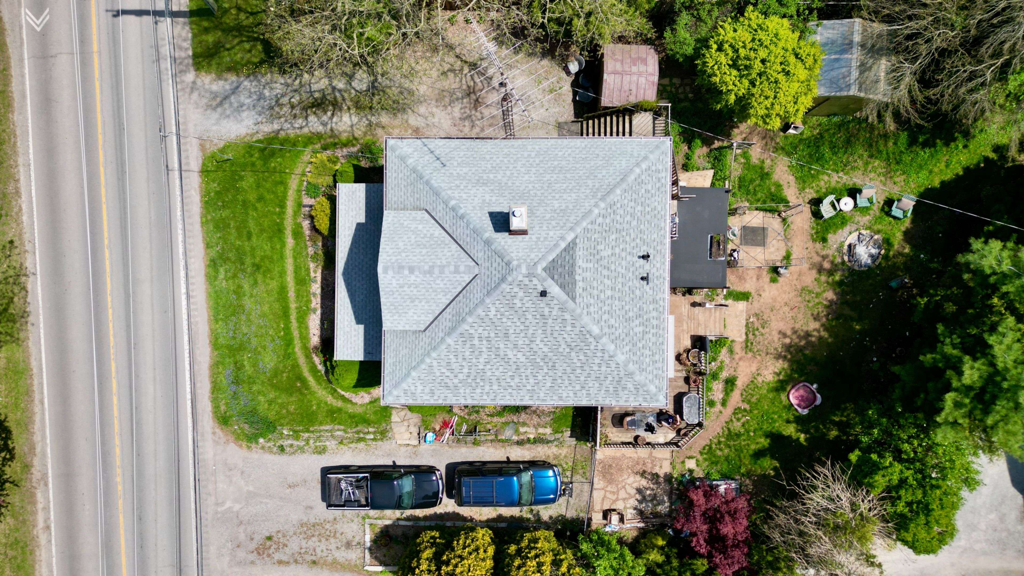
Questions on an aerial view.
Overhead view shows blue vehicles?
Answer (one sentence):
Yes, there's a blue vehicle down there.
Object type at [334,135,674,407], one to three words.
house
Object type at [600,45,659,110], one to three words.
shed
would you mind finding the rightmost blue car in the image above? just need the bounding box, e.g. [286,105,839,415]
[455,462,563,513]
